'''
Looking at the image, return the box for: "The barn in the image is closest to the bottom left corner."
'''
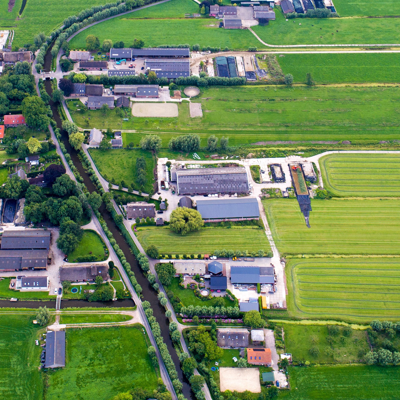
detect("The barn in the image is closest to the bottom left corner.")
[46,331,67,370]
